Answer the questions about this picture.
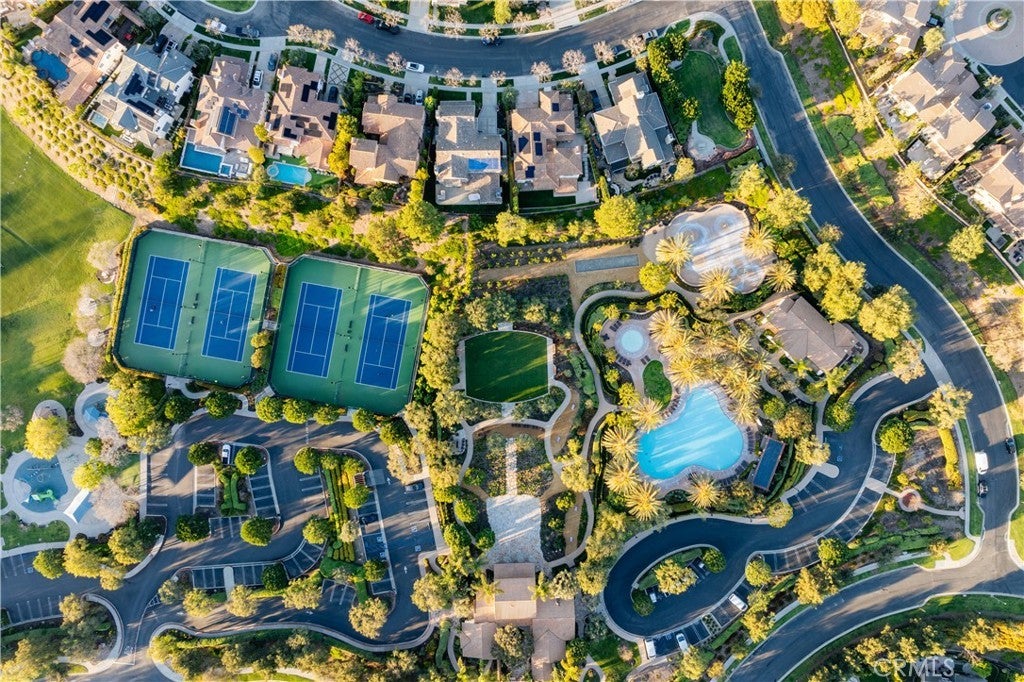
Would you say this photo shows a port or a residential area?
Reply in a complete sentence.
The area seen from above is a residential area.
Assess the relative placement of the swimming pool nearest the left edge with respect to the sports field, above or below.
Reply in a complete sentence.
Relative to the sports field, the swimming pool nearest the left edge lies above it.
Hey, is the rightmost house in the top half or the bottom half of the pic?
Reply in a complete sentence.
You can find the rightmost house in the top half.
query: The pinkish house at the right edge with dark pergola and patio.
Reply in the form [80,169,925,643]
[960,121,1024,239]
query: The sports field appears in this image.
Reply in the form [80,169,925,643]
[0,106,134,459]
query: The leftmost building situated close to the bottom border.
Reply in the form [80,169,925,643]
[461,559,576,682]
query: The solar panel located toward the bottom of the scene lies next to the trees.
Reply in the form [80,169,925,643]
[756,439,781,488]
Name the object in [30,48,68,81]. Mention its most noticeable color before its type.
blue swimming pool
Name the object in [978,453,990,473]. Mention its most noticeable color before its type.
white vehicle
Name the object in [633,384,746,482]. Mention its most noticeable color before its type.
blue swimming pool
